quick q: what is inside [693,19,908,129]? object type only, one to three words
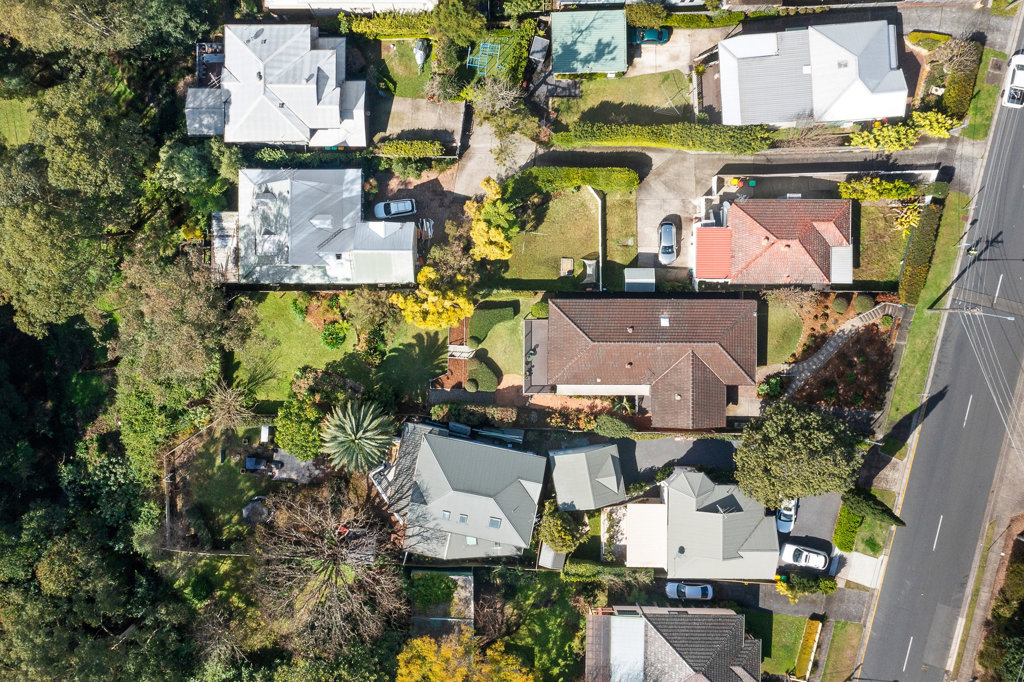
house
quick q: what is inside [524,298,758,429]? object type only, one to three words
house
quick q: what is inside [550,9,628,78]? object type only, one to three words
building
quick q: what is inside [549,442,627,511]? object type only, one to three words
building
